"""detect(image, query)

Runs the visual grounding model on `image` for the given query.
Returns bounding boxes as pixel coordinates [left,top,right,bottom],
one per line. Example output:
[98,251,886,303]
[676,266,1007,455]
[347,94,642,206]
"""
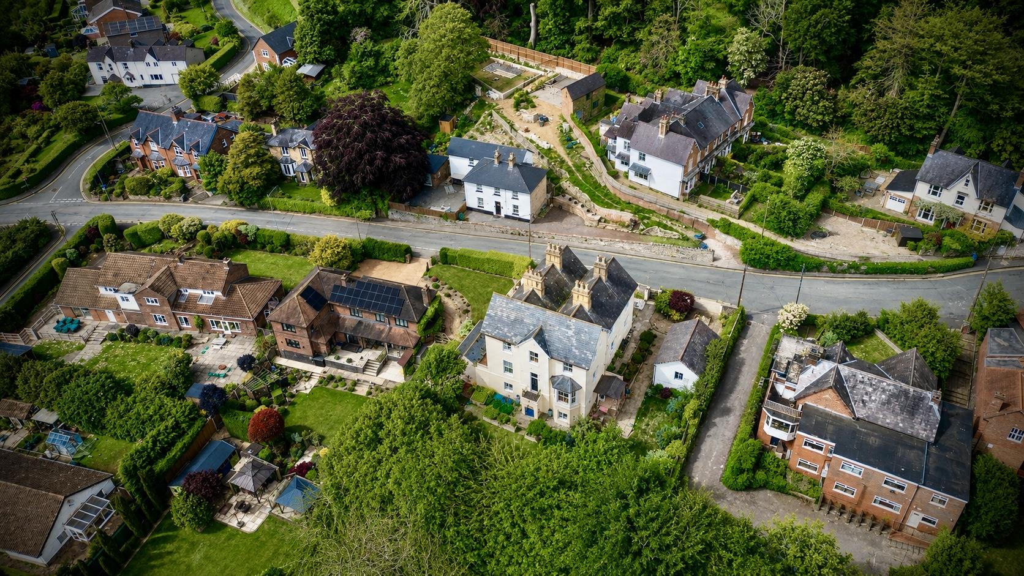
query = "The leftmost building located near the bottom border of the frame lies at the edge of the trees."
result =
[0,440,126,571]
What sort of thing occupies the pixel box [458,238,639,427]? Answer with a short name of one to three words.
house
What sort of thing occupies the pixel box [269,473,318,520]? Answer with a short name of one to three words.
gazebo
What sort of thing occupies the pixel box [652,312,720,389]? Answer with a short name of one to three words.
building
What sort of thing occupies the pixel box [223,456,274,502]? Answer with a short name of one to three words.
gazebo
